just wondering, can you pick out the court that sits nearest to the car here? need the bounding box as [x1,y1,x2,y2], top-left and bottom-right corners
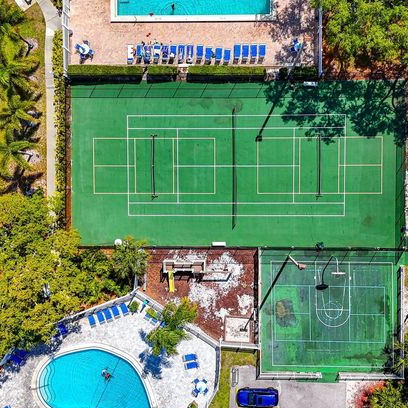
[260,250,402,382]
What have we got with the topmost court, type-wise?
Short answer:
tennis court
